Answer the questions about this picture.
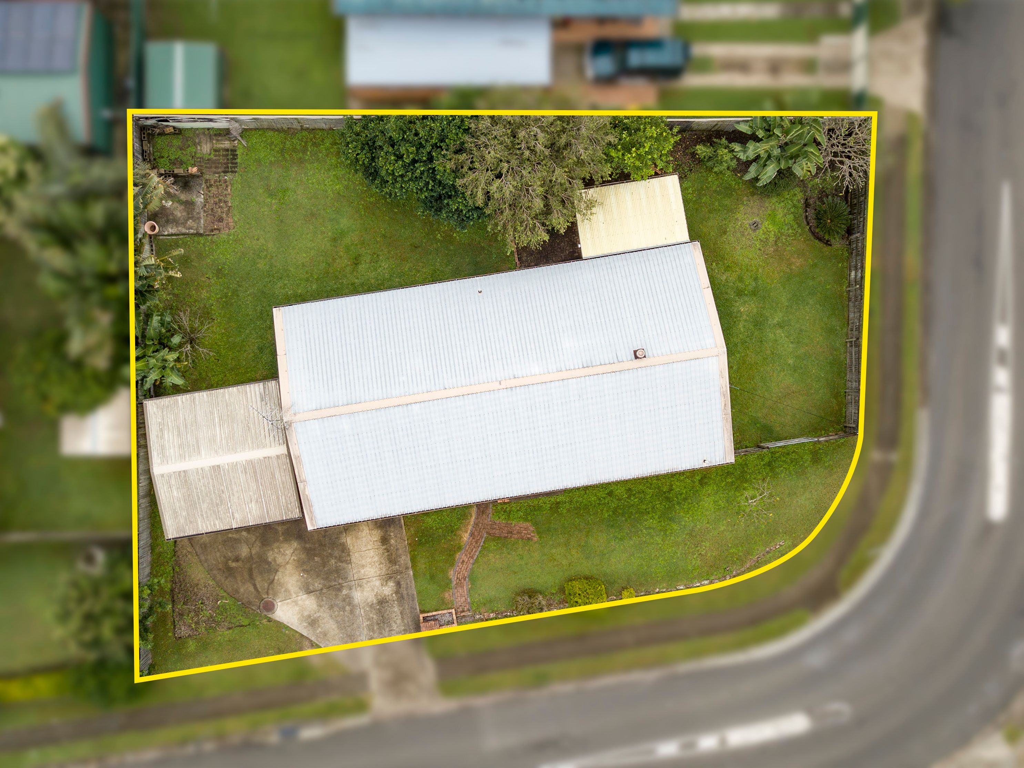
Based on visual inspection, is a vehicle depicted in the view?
Yes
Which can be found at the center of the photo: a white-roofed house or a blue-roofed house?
white-roofed house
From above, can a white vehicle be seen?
No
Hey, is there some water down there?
No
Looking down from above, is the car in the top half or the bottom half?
top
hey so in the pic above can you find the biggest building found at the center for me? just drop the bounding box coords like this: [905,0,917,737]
[273,237,734,533]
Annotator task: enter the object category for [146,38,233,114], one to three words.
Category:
shed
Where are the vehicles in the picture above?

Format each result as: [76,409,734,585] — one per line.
[584,28,690,79]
